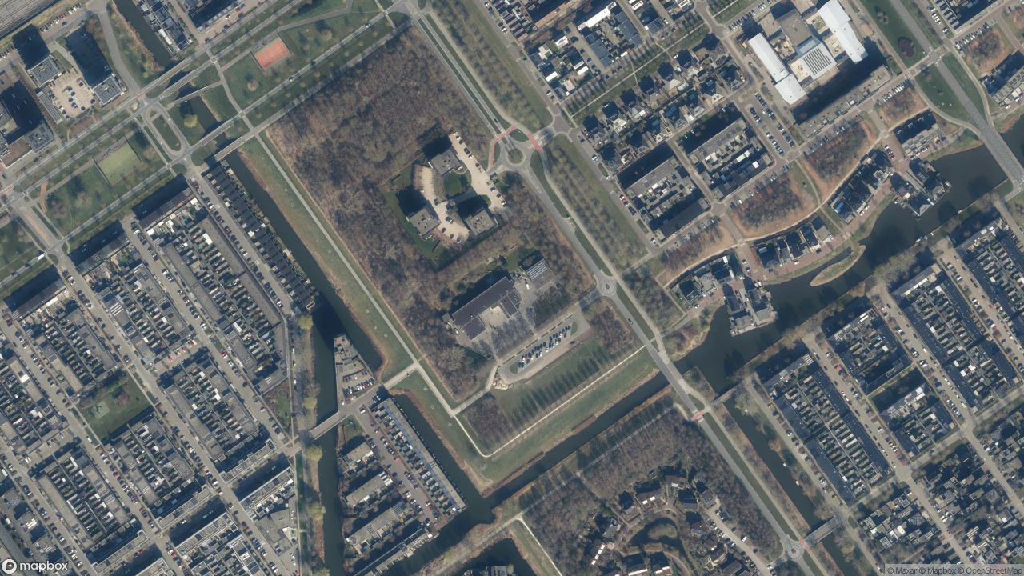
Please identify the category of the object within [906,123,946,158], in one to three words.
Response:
building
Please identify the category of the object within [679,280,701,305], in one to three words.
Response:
house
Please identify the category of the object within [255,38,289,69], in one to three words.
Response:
sports court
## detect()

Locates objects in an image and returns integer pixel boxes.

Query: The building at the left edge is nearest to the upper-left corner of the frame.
[27,54,61,87]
